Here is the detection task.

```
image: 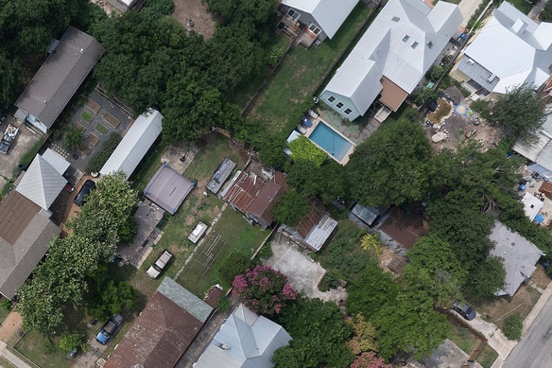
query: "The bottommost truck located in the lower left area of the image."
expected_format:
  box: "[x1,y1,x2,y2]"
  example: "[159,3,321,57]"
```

[95,310,125,347]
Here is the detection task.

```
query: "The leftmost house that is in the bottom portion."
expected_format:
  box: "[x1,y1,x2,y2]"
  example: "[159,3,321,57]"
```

[0,147,70,300]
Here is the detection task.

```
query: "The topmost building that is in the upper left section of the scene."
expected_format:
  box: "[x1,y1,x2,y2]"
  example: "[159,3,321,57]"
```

[13,27,103,134]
